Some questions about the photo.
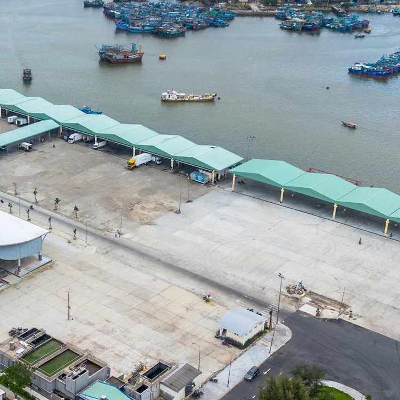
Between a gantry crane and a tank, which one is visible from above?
tank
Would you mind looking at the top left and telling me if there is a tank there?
No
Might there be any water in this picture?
Yes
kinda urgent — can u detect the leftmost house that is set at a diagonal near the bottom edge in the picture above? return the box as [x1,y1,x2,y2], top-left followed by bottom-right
[156,365,201,400]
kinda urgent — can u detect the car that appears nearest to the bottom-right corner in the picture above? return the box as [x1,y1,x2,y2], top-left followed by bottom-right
[247,365,266,381]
